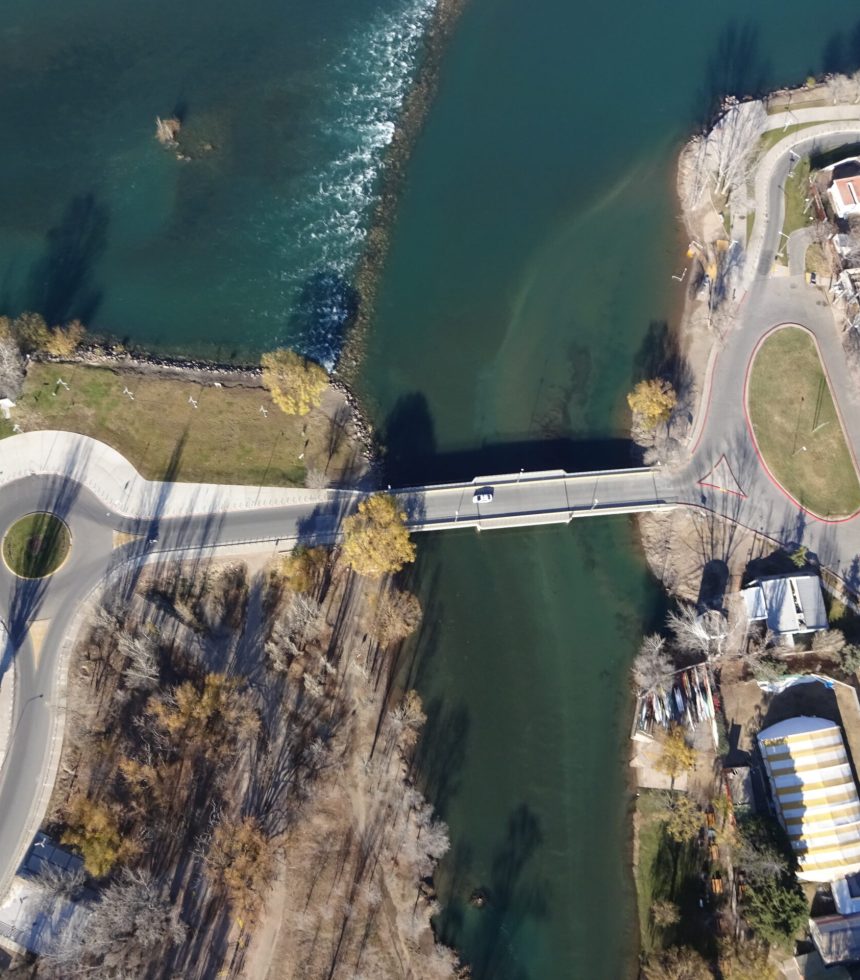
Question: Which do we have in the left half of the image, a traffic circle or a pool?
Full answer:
What appears in the left half of the image is a traffic circle.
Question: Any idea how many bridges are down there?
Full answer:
Altogether the scene contains 1 bridge.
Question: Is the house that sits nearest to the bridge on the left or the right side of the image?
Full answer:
It is on the right.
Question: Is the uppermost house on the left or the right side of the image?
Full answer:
It is on the right.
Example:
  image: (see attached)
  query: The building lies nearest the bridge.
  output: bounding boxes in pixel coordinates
[738,576,829,635]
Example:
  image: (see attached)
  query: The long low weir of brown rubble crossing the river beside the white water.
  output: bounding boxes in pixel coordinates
[340,0,463,370]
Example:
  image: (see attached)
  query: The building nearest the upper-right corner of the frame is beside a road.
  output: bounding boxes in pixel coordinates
[820,176,860,227]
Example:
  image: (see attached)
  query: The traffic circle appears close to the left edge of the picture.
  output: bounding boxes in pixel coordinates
[0,477,107,615]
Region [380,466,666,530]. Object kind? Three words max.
bridge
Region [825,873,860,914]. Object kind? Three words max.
house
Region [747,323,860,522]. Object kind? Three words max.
roundabout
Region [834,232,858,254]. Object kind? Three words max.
shed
